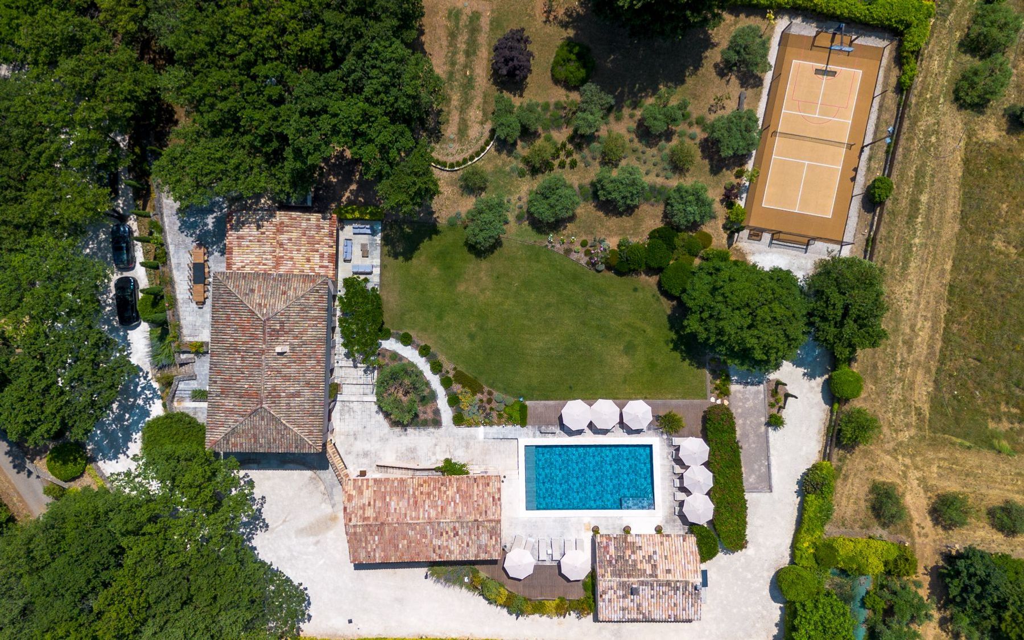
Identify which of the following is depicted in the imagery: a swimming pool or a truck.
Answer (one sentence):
Of the two, only a swimming pool appears.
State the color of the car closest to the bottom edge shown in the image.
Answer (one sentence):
The color of the car closest to the bottom edge is black.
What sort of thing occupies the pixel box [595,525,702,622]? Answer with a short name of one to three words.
building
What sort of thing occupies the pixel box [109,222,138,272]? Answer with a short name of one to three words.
car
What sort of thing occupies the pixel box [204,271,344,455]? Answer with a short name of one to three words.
house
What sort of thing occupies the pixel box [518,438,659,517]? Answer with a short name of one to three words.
swimming pool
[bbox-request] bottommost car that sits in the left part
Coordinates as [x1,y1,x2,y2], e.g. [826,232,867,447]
[113,277,143,327]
